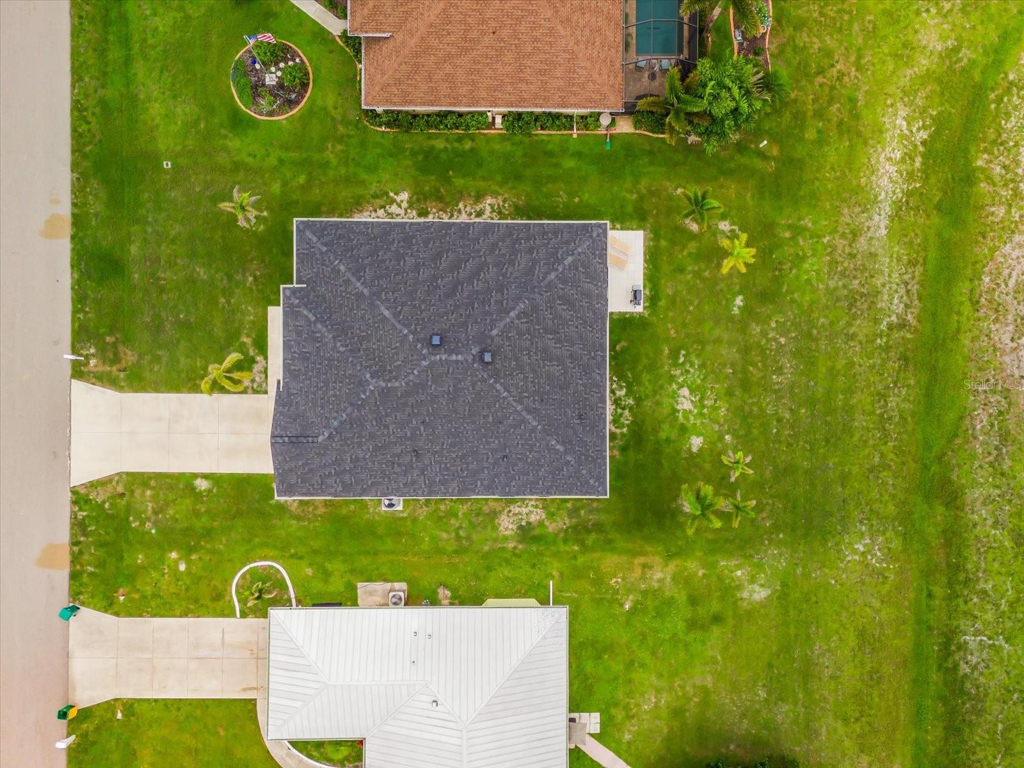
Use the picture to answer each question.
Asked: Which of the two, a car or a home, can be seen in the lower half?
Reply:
home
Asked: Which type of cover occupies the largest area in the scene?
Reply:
grass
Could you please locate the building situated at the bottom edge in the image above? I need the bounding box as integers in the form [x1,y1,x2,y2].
[267,598,570,768]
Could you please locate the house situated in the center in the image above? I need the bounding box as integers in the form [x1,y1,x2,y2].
[270,219,610,499]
